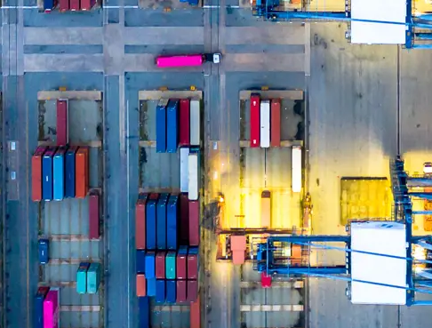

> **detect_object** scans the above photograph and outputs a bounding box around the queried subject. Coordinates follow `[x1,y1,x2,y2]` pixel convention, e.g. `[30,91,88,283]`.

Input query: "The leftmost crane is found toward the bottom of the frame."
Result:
[209,193,317,264]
